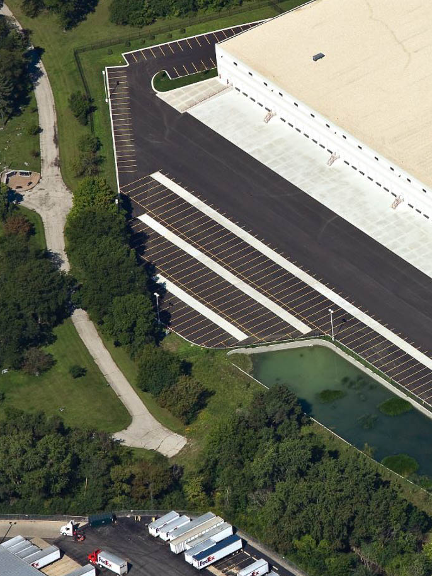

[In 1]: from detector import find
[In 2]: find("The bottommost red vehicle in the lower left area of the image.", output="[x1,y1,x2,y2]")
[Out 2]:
[87,552,107,570]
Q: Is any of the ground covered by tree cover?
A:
Yes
